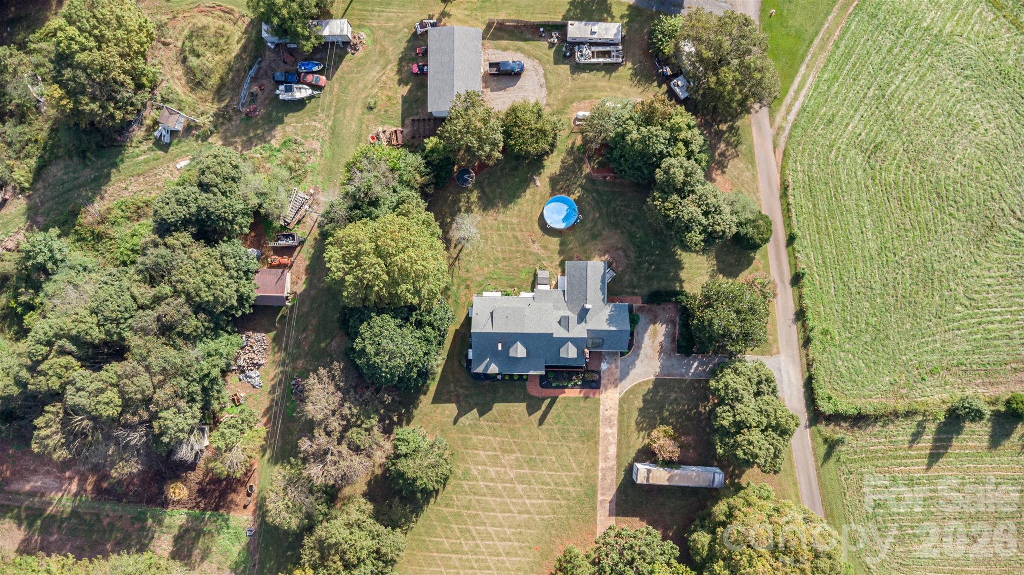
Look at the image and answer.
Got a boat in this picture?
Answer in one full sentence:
Yes, the frame does contain a boat.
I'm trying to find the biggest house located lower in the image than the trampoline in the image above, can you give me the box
[468,261,630,375]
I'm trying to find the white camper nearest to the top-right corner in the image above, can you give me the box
[566,23,625,46]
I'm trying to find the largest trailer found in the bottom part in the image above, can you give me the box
[630,460,726,487]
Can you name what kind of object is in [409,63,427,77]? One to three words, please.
car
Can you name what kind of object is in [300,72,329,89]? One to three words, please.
car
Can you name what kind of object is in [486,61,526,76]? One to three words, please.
vehicle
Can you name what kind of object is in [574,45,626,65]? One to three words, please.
boat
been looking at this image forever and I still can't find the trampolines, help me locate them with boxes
[456,168,475,186]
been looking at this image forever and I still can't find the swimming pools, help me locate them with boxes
[544,195,579,230]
